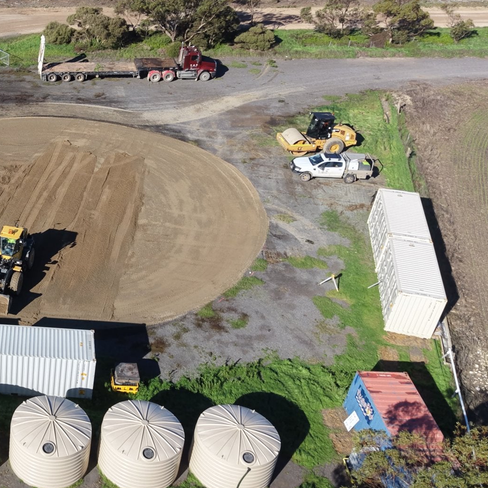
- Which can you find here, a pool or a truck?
truck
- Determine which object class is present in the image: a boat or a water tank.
water tank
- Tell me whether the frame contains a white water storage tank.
Yes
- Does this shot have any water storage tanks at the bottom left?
Yes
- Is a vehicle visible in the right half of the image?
Yes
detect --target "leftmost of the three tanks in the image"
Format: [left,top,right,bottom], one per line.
[9,394,93,488]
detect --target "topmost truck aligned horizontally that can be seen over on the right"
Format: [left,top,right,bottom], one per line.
[289,150,375,183]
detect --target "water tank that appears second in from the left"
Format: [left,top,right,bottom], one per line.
[98,400,187,488]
